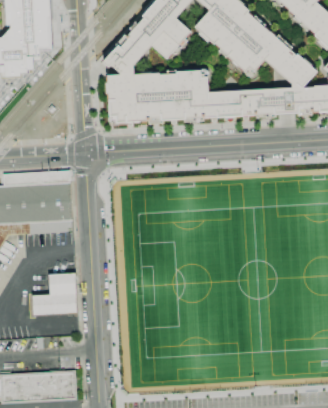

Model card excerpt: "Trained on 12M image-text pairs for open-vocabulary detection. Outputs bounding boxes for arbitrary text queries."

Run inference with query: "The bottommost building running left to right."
[0,370,77,403]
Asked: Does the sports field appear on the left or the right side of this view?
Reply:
right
